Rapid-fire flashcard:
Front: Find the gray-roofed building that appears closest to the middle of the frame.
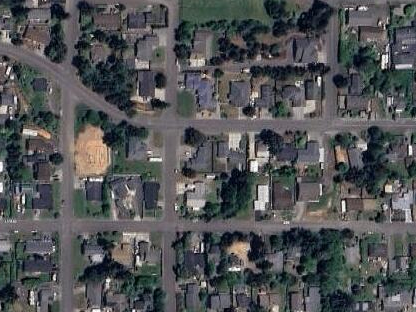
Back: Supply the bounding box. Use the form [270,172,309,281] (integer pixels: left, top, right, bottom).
[190,143,212,171]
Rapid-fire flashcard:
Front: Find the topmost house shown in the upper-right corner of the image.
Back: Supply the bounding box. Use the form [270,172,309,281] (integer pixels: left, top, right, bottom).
[346,8,386,25]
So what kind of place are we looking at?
residential area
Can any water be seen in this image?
No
